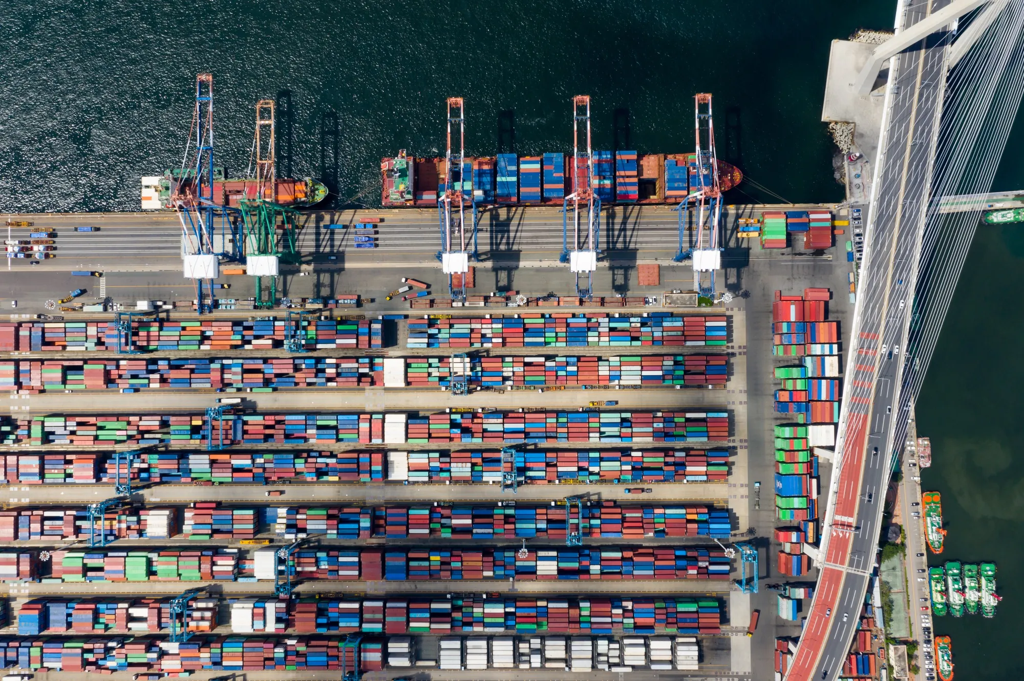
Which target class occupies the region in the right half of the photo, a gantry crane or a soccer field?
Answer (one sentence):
You can see a gantry crane in the right half of the photo.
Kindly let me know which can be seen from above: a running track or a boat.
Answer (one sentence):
There is a boat in the scene.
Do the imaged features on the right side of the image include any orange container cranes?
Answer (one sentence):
No, no orange container crane is visible on the right side of the image.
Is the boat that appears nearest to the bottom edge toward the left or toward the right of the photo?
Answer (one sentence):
The boat that appears nearest to the bottom edge is on the right side of the image.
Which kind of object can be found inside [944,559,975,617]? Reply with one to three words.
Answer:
boat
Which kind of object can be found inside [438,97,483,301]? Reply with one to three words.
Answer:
container crane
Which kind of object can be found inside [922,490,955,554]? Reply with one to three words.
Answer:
boat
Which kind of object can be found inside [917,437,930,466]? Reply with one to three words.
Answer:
ship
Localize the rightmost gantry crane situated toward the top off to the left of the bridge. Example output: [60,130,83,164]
[668,92,726,299]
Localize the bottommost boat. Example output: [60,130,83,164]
[934,634,964,681]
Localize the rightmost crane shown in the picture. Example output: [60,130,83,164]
[725,535,759,594]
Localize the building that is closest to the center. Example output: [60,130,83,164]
[663,294,697,307]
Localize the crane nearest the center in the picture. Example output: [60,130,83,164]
[449,352,476,397]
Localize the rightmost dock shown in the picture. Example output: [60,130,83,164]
[930,190,1024,213]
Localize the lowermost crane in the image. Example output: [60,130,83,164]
[340,628,363,681]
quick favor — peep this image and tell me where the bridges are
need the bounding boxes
[782,0,1024,681]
